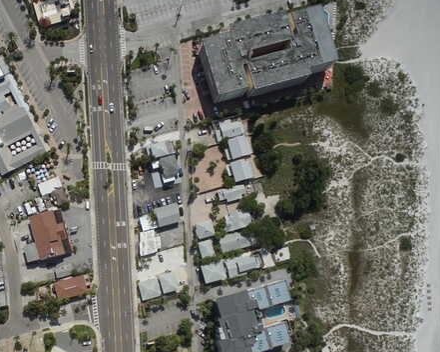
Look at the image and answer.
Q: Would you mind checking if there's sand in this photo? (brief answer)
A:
Yes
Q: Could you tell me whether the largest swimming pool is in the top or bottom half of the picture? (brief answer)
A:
bottom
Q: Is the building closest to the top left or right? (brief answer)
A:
left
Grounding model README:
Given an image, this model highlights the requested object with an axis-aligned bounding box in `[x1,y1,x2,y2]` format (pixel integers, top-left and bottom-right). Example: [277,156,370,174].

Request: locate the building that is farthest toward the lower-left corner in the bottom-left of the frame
[53,275,87,300]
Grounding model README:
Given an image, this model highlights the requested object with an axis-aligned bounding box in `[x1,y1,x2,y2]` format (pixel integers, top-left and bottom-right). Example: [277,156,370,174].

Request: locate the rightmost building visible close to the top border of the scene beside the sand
[197,4,338,102]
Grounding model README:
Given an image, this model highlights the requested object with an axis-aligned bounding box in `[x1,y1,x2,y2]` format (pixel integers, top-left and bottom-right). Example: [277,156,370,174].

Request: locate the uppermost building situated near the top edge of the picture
[35,0,70,27]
